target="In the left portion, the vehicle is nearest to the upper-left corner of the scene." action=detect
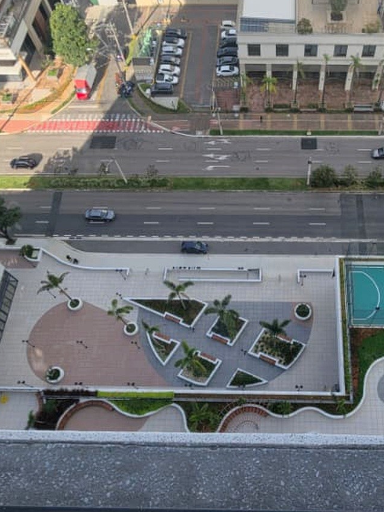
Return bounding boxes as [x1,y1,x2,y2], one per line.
[73,61,98,100]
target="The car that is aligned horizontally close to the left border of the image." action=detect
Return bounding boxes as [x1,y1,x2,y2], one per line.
[9,157,37,170]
